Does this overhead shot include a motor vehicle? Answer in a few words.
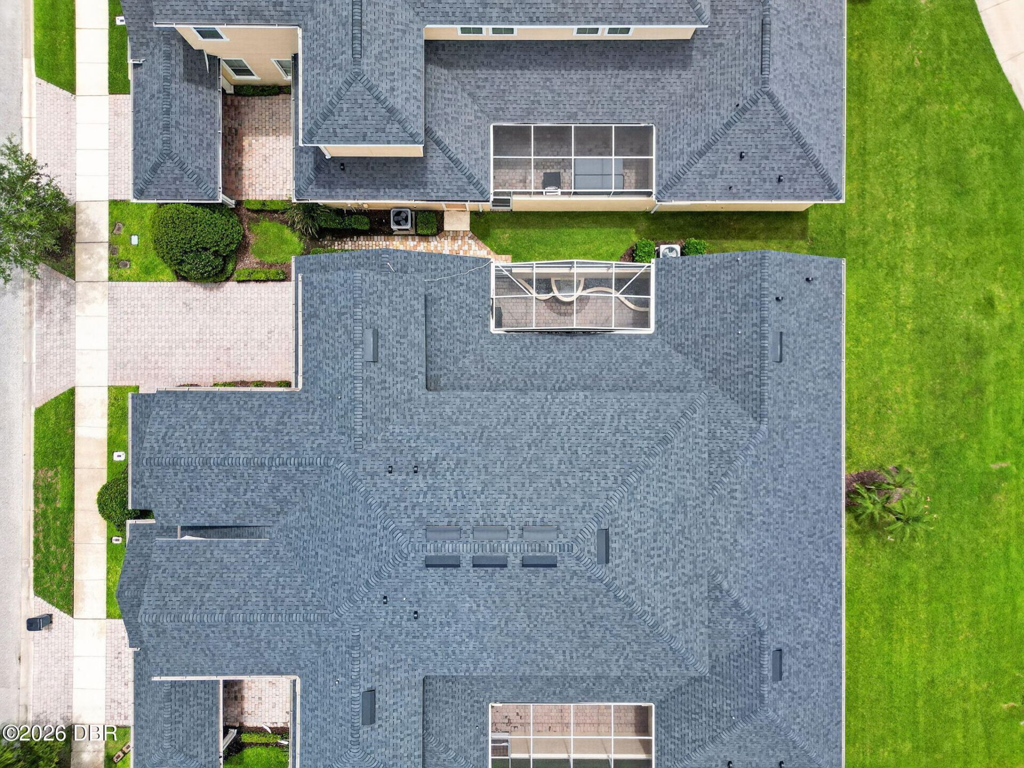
No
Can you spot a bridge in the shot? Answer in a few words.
No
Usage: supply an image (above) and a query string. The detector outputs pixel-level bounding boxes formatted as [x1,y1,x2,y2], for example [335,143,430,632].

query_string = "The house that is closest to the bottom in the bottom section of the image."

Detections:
[116,249,845,768]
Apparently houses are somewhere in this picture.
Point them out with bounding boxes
[116,249,845,768]
[118,0,845,217]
